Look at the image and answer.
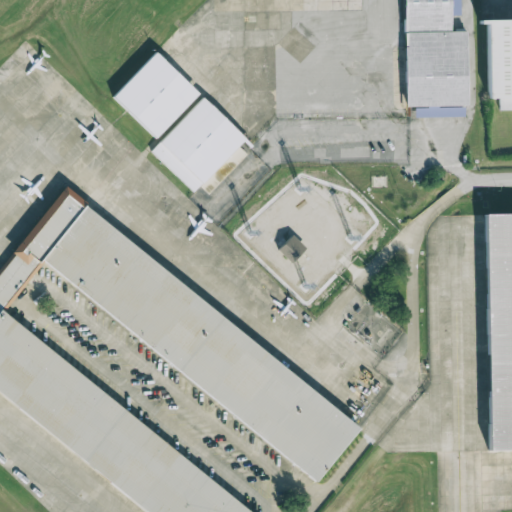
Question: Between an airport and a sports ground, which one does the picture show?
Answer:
airport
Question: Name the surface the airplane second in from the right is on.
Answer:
apron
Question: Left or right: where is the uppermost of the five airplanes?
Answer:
left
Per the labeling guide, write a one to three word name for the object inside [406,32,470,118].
building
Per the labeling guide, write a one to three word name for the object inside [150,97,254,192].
hangar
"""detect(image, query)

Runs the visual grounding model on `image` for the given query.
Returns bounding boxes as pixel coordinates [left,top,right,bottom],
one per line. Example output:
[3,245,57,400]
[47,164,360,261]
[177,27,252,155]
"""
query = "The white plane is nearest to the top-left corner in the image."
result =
[27,48,53,74]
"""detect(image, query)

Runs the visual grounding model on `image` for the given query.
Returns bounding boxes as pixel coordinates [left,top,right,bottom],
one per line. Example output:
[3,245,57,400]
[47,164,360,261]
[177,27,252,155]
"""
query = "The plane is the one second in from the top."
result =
[80,120,105,144]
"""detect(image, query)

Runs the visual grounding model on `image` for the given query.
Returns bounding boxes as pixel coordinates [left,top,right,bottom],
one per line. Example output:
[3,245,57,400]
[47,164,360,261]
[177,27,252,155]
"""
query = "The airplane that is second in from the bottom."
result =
[189,213,216,240]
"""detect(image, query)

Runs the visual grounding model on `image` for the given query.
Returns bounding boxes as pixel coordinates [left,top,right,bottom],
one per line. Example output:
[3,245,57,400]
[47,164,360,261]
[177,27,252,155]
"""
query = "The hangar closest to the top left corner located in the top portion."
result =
[111,48,202,140]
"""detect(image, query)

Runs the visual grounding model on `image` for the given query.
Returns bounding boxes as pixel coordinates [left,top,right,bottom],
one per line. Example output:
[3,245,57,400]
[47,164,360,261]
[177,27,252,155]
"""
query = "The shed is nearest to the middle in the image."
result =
[278,234,308,263]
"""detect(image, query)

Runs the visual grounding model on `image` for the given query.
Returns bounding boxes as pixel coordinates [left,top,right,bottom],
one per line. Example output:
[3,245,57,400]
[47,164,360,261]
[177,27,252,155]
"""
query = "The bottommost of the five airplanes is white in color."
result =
[275,296,300,318]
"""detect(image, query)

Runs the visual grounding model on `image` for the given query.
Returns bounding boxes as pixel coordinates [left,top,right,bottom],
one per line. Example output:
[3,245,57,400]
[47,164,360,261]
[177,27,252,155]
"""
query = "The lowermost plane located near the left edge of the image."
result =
[20,178,44,202]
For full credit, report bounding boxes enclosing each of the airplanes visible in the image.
[27,48,53,74]
[275,296,300,318]
[20,178,44,202]
[80,120,105,144]
[189,213,216,240]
